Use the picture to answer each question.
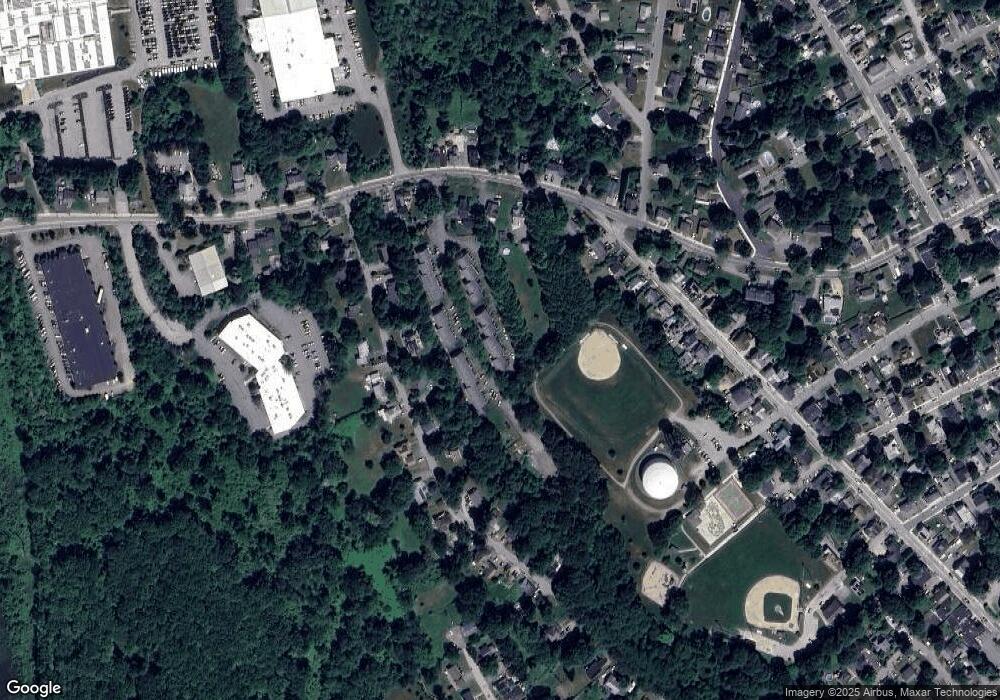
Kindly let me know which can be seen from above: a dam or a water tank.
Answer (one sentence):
The one in the frame is a water tank.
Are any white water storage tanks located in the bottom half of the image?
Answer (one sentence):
Yes, you'll find a white water storage tank in the bottom half of the image.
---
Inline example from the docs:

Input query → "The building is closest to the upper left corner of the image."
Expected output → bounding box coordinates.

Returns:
[0,0,116,85]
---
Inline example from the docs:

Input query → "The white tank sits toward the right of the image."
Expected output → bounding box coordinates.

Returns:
[634,455,687,508]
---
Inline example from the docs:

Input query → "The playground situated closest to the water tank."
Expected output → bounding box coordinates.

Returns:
[697,496,737,545]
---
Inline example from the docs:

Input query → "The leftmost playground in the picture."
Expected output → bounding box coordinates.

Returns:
[643,562,682,606]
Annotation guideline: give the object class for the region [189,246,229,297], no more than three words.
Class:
building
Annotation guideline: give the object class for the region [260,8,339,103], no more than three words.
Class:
building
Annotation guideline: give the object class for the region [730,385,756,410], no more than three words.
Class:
house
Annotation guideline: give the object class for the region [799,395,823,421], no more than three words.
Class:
house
